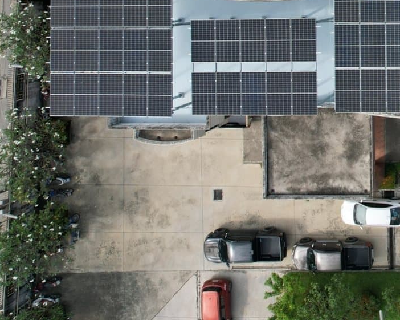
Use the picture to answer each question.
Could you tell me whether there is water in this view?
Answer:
No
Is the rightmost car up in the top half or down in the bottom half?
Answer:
bottom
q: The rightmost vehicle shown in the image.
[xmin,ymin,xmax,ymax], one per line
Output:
[342,198,400,235]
